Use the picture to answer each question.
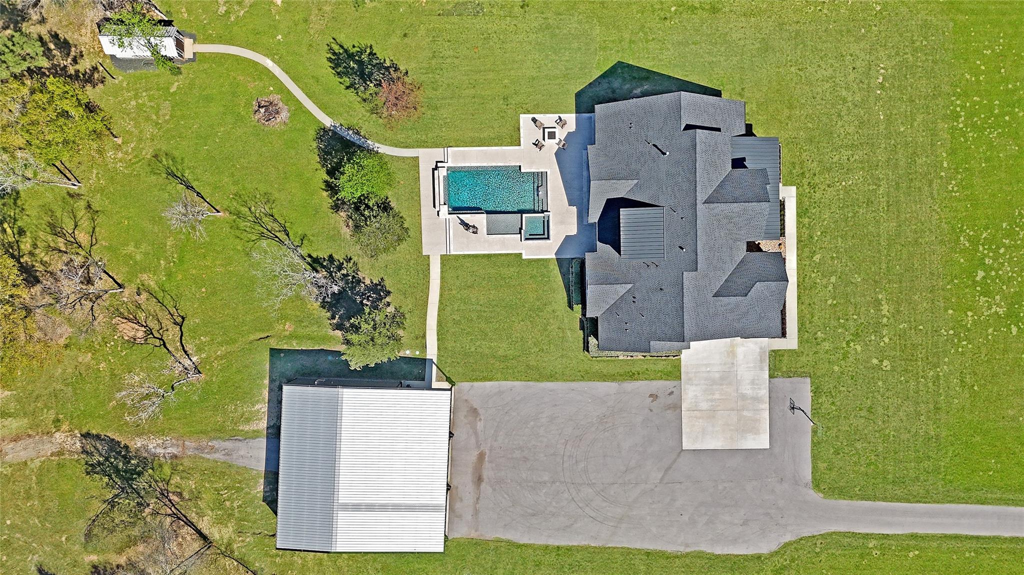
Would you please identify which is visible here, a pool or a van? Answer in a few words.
pool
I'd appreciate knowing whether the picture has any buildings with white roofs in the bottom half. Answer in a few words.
Yes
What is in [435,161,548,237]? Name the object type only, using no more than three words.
swimming pool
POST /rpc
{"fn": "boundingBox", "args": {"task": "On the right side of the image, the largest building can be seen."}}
[585,92,789,352]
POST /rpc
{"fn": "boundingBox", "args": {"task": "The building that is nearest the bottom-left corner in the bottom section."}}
[276,378,453,557]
